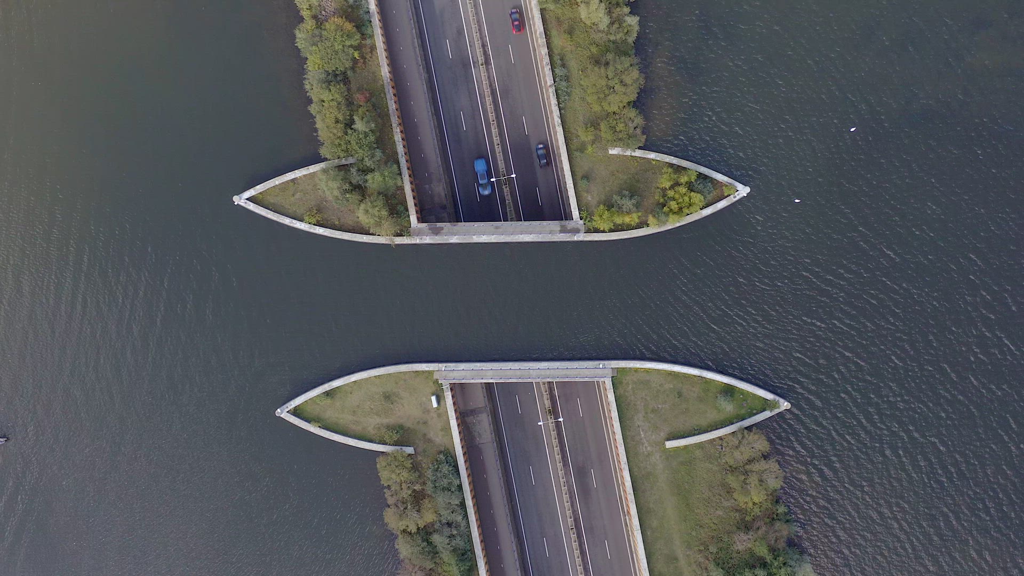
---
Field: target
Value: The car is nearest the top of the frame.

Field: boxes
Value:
[509,9,524,36]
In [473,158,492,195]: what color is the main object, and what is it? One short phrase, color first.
blue vehicle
